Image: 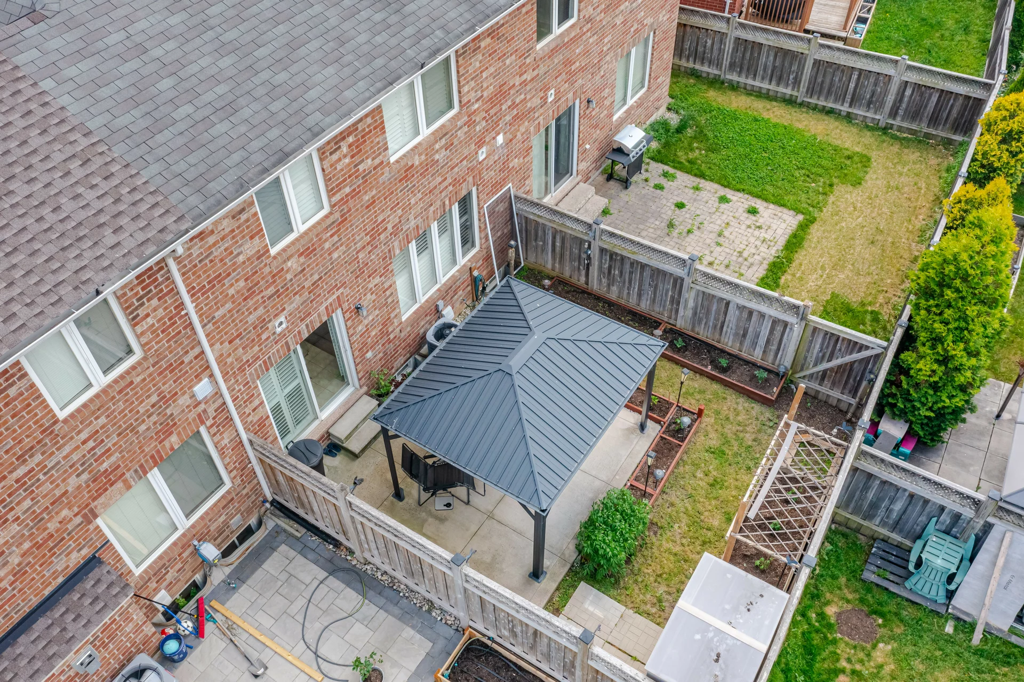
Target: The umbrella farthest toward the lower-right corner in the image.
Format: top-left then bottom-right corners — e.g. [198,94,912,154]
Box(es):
[993,370,1024,420]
